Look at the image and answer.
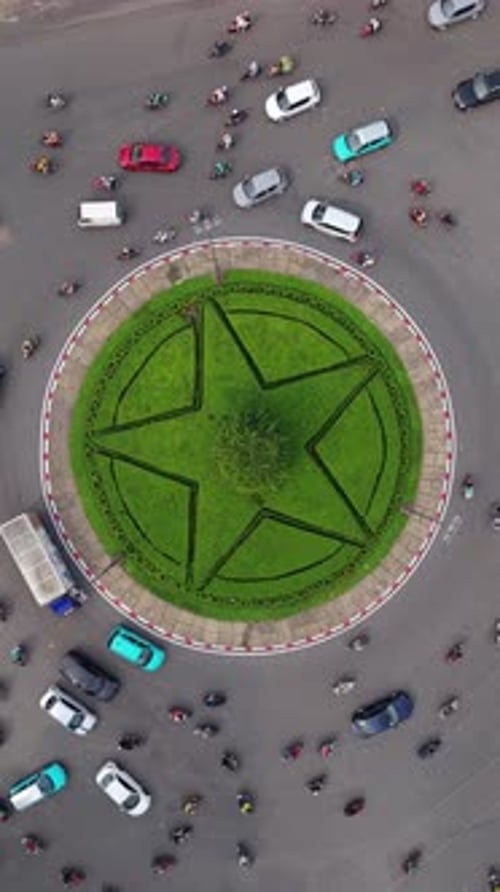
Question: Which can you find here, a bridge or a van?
van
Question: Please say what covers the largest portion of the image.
paved ground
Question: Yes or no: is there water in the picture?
No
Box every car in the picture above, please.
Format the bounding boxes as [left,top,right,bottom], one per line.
[56,649,122,699]
[119,139,182,174]
[350,688,412,734]
[5,758,70,814]
[233,166,290,209]
[95,758,153,814]
[266,78,322,124]
[301,199,364,242]
[105,625,166,671]
[40,683,99,733]
[332,116,395,164]
[426,0,490,31]
[451,67,500,112]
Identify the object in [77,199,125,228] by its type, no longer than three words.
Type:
van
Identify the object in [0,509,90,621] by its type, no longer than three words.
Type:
truck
